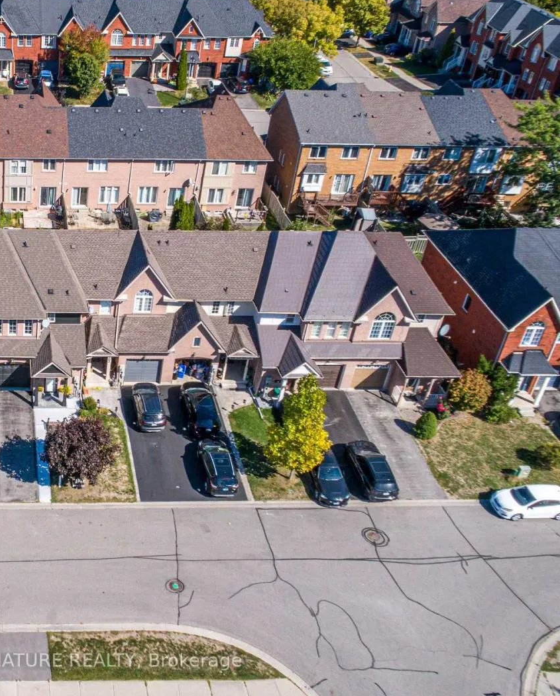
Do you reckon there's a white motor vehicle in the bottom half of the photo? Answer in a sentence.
Yes, a white motor vehicle appears in the bottom half of the photo.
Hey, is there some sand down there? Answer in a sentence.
No, the scene doesn't show any sand.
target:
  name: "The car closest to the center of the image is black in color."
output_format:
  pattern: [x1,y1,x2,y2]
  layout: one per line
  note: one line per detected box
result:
[183,388,224,438]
